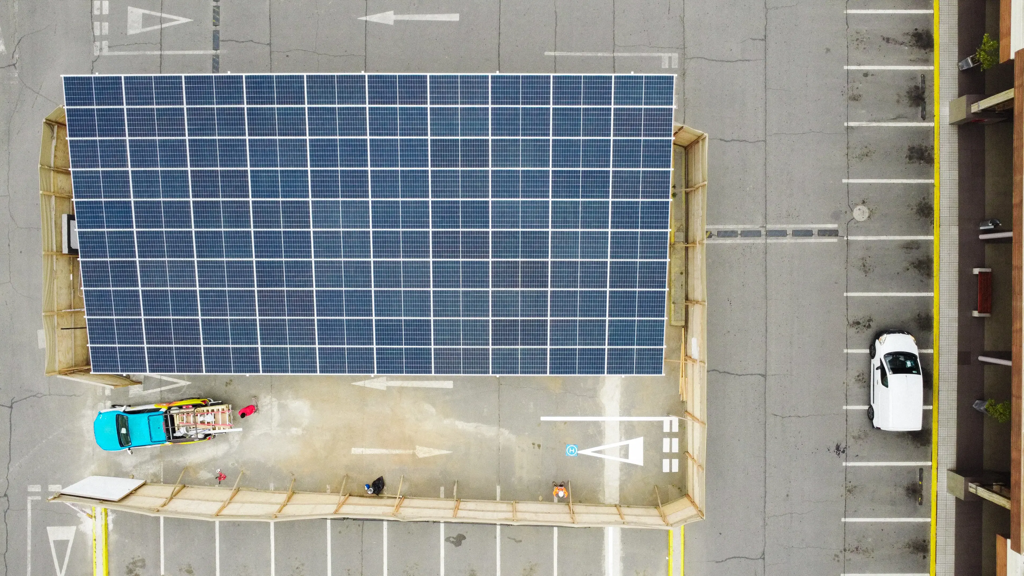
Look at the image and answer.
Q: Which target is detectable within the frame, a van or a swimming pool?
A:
van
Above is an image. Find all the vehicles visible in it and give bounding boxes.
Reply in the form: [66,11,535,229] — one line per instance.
[94,391,227,451]
[865,328,926,435]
